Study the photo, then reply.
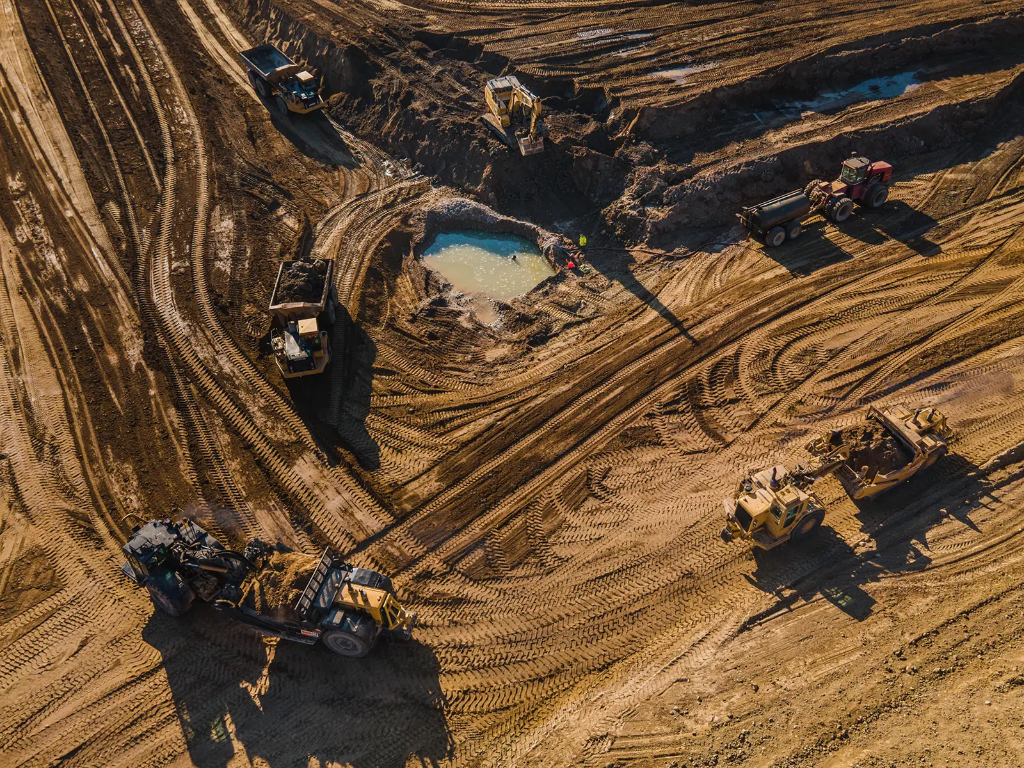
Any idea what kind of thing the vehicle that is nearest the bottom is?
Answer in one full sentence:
I'd identify the vehicle that is nearest the bottom as a truck.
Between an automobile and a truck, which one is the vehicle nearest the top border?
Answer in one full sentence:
I'd say the vehicle nearest the top border is a truck.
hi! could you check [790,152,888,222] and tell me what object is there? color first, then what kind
black work vehicle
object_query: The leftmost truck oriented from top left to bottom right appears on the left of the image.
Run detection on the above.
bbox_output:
[240,47,326,123]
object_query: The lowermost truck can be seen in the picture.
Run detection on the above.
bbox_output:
[268,244,335,378]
